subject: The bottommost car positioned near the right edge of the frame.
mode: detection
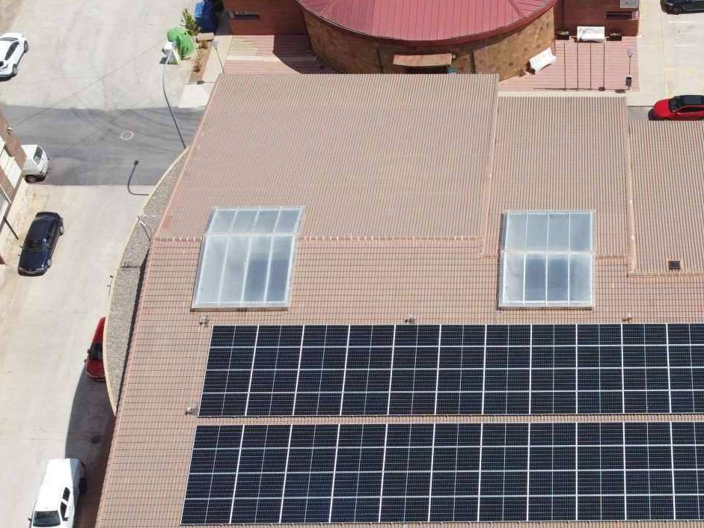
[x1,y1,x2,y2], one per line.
[653,86,704,120]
